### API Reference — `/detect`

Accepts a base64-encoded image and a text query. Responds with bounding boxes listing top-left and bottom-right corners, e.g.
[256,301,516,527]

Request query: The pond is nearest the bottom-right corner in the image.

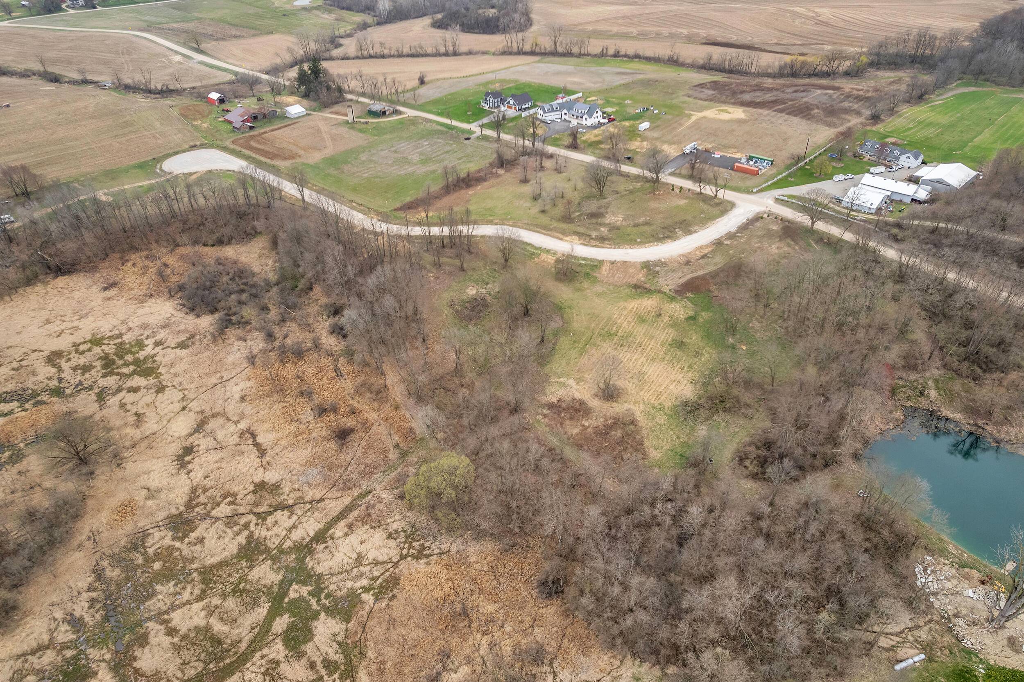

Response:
[859,407,1024,582]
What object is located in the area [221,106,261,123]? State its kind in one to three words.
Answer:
barn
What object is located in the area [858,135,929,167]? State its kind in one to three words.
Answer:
house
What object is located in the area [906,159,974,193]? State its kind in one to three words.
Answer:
shed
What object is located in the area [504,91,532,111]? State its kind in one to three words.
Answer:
building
